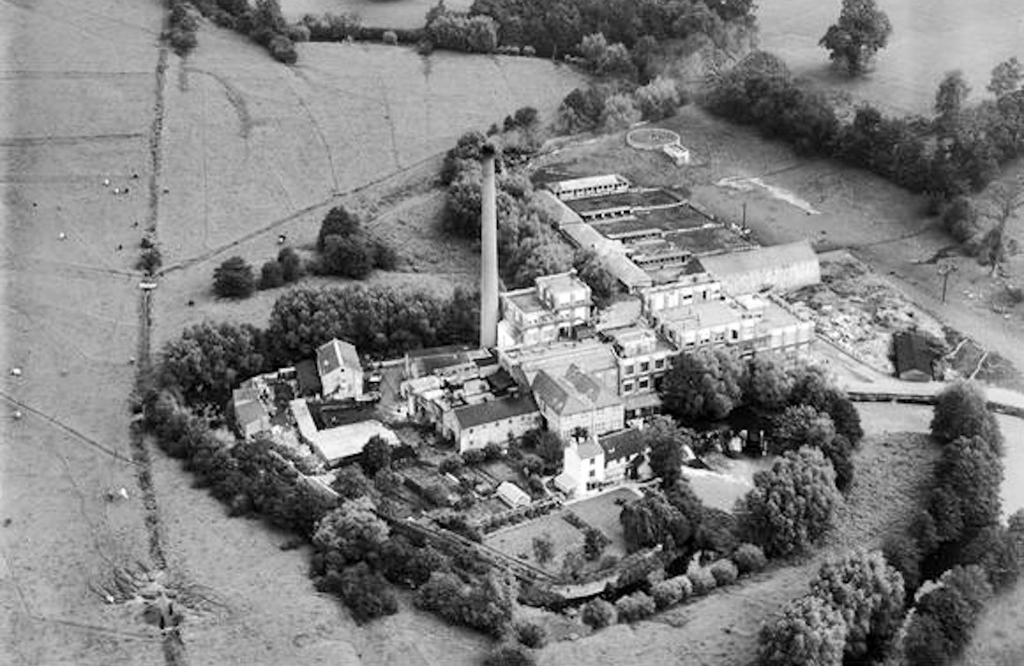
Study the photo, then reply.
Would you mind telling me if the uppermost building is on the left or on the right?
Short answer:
right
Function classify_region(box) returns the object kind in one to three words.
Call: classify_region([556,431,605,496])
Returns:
house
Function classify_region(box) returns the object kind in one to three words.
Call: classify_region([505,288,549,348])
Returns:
building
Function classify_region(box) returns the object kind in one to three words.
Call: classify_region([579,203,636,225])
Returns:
shed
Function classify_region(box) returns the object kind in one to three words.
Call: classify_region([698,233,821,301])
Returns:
shed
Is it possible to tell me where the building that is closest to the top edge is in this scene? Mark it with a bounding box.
[666,145,689,165]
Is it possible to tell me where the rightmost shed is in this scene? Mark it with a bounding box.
[894,330,936,383]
